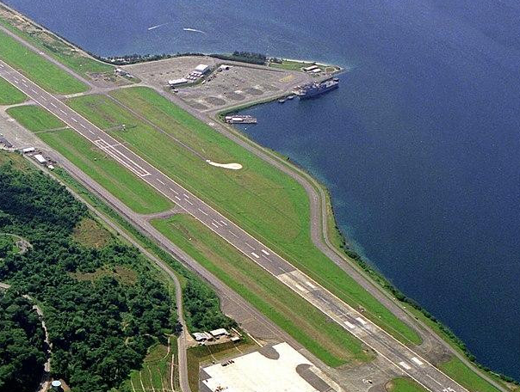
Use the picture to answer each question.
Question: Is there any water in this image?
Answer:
Yes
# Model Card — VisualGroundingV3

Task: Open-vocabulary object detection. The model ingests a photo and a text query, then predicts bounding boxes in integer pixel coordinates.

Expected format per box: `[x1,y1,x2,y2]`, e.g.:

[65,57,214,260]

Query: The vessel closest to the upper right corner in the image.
[294,74,340,95]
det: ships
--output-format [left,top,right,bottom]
[294,74,340,95]
[220,114,259,124]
